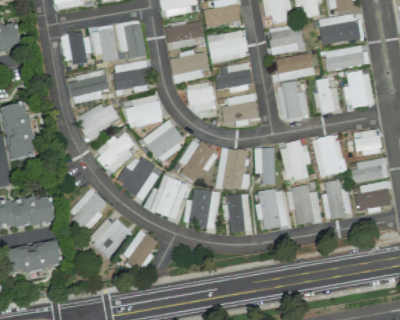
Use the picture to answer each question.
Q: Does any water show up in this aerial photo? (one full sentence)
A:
No, there's no water in this view.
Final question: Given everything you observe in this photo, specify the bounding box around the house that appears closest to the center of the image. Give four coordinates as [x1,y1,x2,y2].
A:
[181,140,222,188]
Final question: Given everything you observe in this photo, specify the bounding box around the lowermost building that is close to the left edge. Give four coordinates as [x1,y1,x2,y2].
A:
[10,242,62,272]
